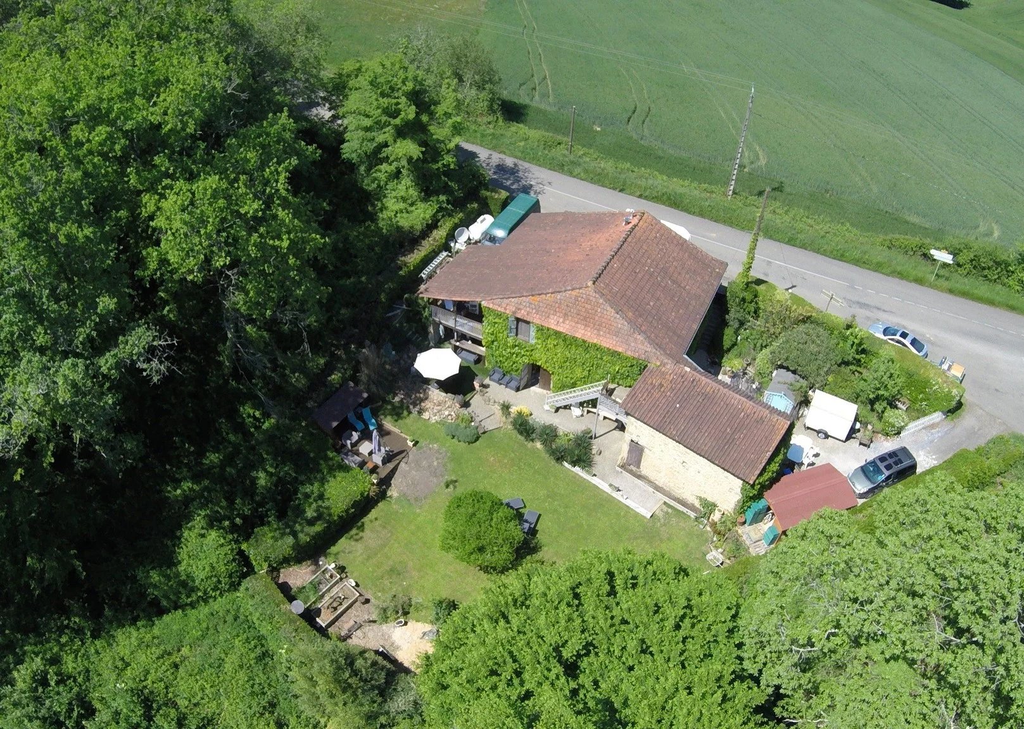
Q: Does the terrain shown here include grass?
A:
Yes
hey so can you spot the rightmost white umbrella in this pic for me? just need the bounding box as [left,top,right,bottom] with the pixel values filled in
[414,350,461,398]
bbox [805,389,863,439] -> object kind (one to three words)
trailer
